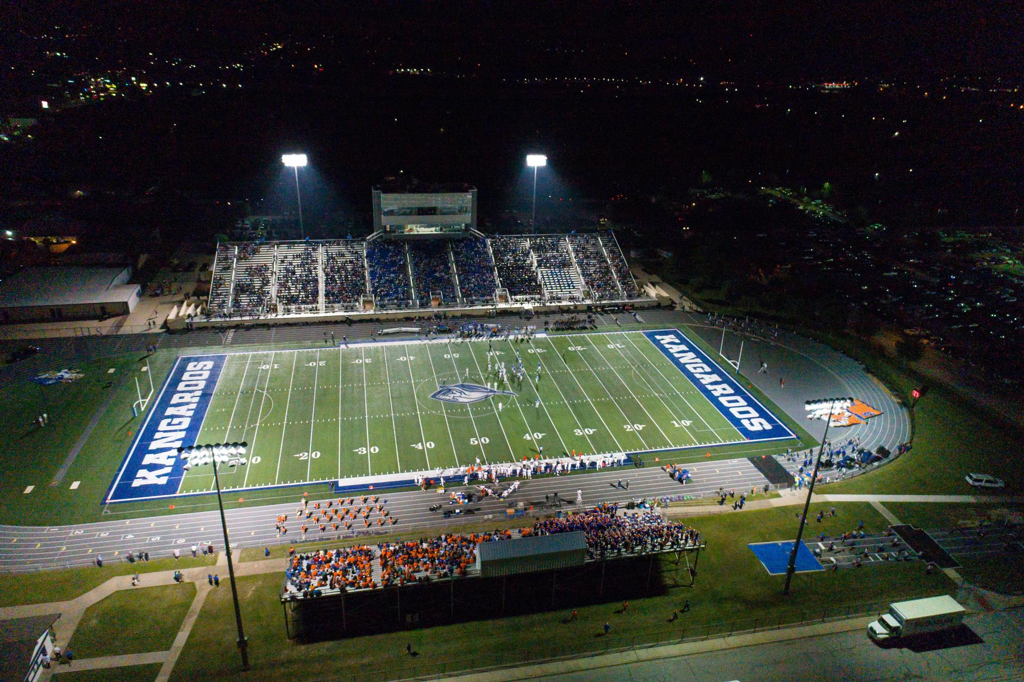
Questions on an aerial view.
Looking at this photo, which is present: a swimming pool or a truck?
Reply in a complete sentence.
This aerial view contains a truck.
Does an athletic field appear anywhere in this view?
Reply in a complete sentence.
Yes, there is an athletic field in the image.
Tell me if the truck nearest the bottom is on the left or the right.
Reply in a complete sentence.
You can find the truck nearest the bottom on the right side of the picture.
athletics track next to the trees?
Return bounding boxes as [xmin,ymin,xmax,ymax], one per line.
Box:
[0,311,915,576]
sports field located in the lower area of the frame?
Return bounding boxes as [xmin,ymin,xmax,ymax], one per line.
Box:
[67,324,822,523]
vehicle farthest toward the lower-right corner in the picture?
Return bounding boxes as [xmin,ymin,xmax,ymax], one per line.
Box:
[861,593,965,647]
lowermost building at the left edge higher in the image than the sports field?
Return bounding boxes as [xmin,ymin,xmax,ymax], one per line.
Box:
[0,266,142,319]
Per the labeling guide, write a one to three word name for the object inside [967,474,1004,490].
car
